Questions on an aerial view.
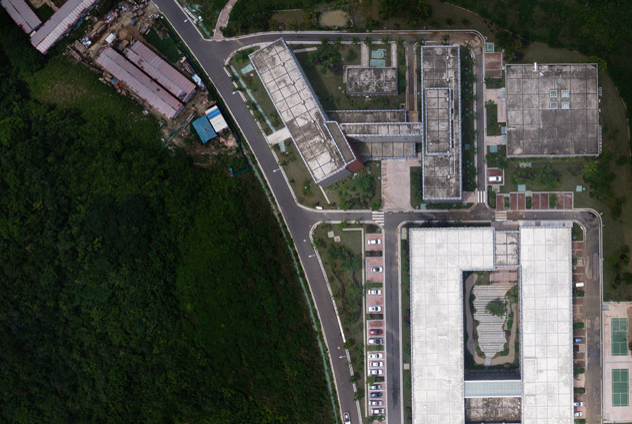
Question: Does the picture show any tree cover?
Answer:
Yes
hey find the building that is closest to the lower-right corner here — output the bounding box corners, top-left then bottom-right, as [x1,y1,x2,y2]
[409,220,574,424]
